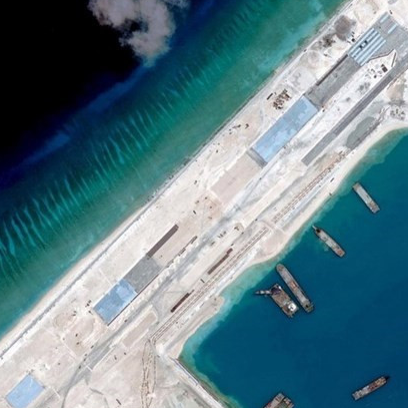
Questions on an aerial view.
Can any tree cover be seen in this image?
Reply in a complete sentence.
No, tree cover can't be seen anywhere here.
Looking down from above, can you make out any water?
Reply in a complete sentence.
Yes, water can be seen from above here.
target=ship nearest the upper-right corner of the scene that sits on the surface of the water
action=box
[354,183,379,213]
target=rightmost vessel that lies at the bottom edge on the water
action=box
[353,376,387,398]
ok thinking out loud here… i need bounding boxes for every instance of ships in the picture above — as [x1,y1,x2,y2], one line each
[255,286,298,315]
[313,225,345,257]
[353,376,387,398]
[266,392,286,408]
[277,264,315,313]
[354,183,379,213]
